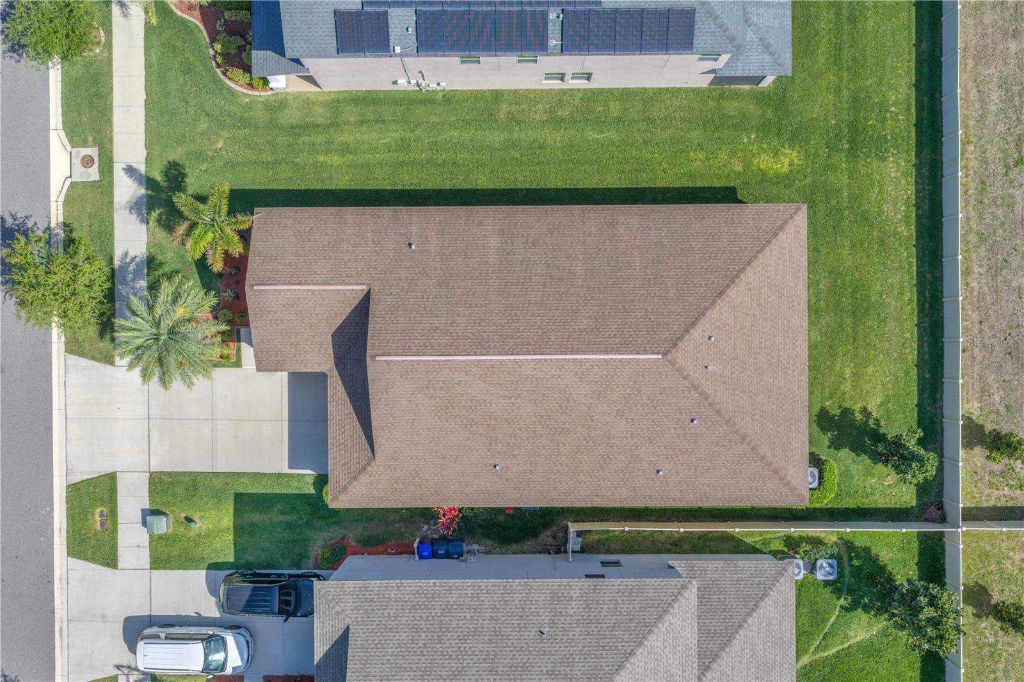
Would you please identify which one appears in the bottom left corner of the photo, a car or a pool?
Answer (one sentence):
Visible in the bottom left corner of the photo is a car.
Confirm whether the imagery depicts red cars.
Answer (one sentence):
No, the scene contains no red car.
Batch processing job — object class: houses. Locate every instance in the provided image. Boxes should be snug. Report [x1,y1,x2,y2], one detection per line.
[252,0,792,94]
[245,205,808,508]
[313,552,795,682]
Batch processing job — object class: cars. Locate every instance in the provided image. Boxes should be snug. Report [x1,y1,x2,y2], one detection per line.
[219,573,325,627]
[135,626,254,682]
